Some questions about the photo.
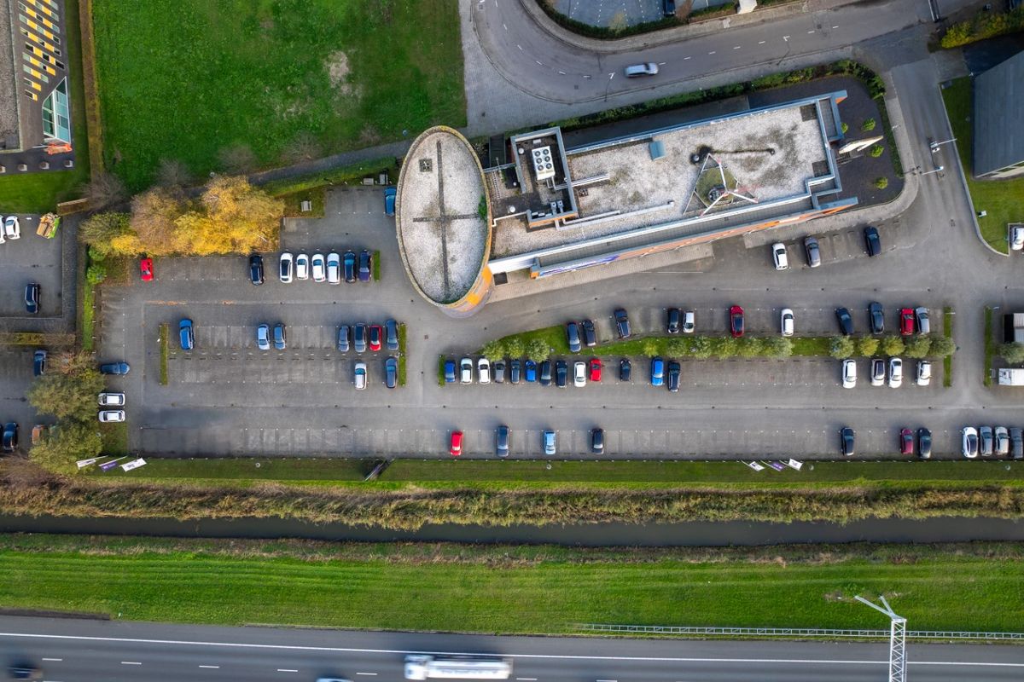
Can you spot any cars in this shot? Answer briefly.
Yes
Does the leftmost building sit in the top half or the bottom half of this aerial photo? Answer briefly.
top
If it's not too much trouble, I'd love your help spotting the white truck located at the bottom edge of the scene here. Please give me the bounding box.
[405,652,512,679]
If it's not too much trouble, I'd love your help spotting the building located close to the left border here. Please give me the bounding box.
[0,0,71,152]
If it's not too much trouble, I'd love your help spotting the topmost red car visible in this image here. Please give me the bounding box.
[140,258,156,281]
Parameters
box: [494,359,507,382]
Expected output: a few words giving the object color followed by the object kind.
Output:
gray vehicle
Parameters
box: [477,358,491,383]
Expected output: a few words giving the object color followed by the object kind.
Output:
white car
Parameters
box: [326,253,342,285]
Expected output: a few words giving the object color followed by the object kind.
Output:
white car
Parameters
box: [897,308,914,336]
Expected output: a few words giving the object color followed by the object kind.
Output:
red car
